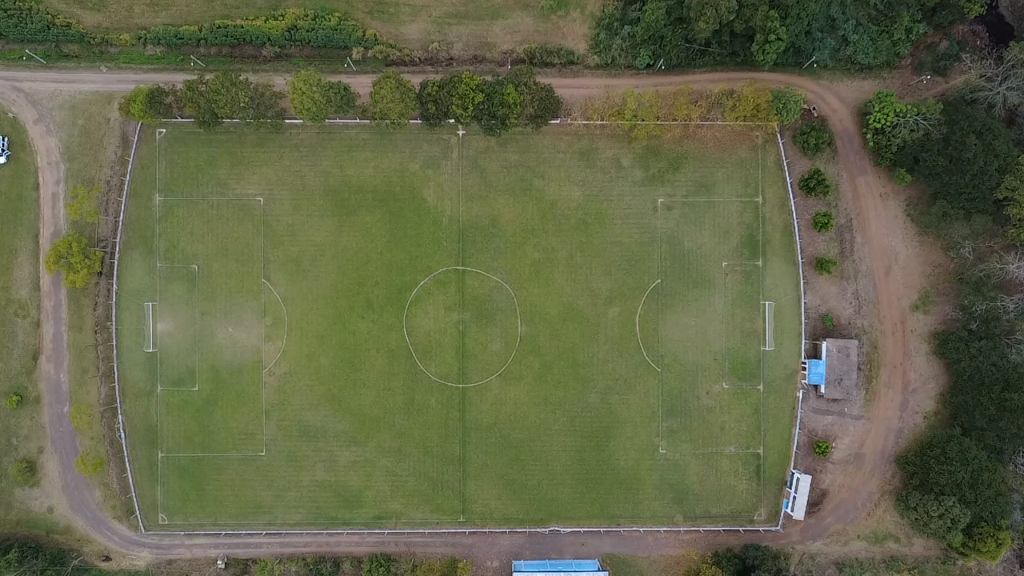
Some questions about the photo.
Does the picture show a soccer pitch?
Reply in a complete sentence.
Yes, you can see a soccer pitch in this photo.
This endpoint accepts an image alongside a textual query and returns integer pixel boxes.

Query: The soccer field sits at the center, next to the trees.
[118,125,801,529]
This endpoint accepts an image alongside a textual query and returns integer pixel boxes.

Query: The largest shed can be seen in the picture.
[800,339,858,400]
